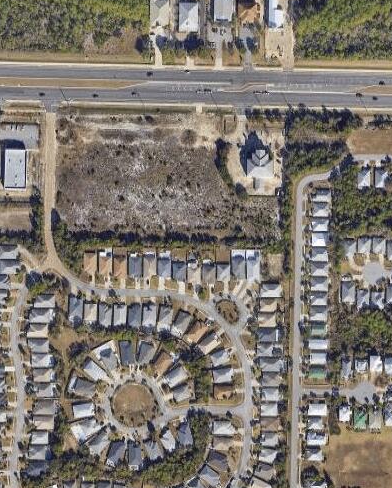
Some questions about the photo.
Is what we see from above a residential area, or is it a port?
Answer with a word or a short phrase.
residential area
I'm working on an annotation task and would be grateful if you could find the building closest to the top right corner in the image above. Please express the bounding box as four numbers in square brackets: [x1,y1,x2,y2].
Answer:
[268,0,283,27]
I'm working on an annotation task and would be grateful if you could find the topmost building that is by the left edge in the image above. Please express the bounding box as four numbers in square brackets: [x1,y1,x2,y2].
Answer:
[5,149,25,188]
